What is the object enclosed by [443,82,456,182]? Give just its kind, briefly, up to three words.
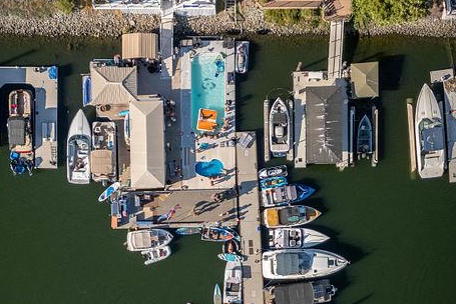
pier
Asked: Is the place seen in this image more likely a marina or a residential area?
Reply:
marina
